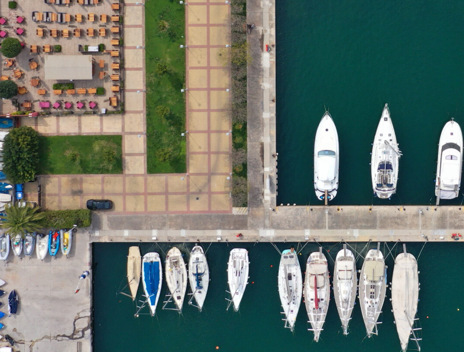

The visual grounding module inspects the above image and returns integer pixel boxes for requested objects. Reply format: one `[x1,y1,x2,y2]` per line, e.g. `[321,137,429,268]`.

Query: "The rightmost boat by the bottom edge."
[386,243,427,352]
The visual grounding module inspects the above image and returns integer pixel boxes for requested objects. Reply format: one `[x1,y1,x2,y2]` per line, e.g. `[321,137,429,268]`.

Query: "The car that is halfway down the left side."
[87,199,112,212]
